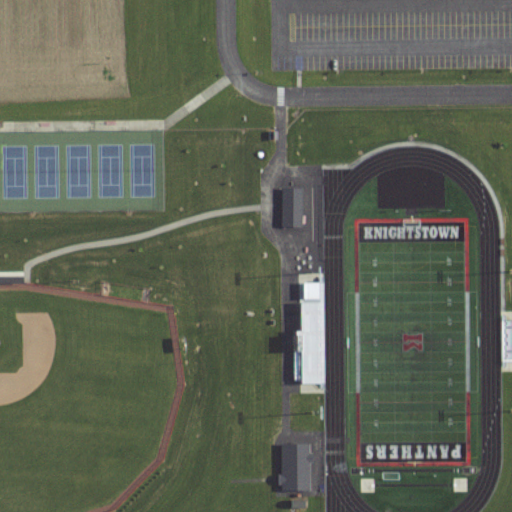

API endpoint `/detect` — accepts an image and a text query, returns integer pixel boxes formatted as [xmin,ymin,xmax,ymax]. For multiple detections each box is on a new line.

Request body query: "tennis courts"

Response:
[2,146,27,198]
[34,145,60,198]
[130,144,156,197]
[64,145,90,198]
[98,144,124,197]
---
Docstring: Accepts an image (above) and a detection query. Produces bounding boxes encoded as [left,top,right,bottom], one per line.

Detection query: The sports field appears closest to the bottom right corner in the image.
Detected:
[344,174,481,512]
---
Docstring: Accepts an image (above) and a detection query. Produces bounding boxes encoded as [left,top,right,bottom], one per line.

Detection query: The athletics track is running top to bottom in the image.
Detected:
[326,147,499,512]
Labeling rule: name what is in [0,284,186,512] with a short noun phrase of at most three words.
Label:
baseball field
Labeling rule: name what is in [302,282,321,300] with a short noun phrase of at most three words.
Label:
building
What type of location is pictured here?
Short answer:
sports ground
